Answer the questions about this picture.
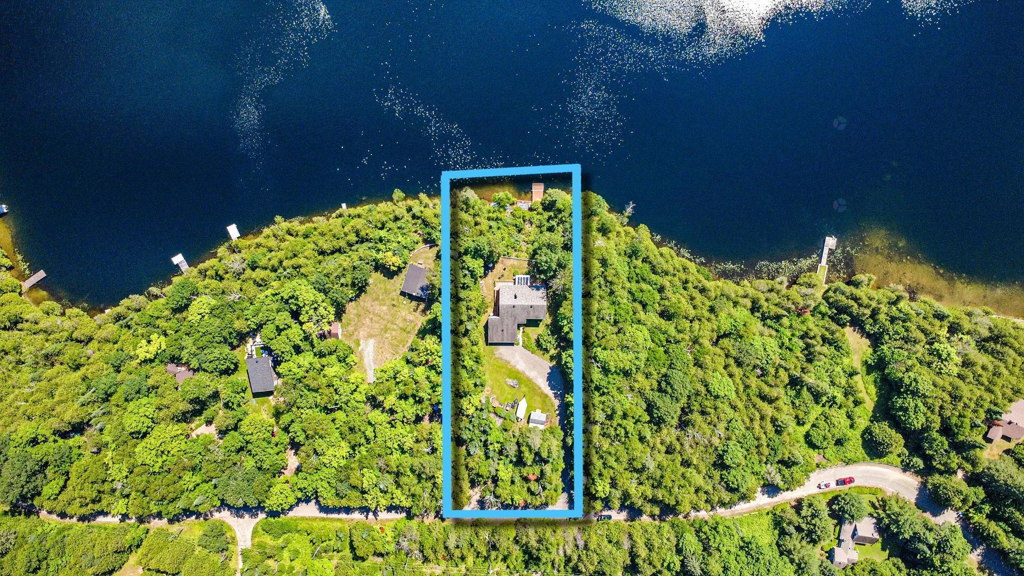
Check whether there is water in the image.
Yes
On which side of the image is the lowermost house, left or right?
right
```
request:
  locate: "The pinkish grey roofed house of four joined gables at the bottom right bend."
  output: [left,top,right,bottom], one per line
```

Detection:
[828,514,879,568]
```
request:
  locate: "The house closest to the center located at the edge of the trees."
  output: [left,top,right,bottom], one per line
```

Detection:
[488,275,546,342]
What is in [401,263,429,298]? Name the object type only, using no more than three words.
house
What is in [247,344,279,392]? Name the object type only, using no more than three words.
building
